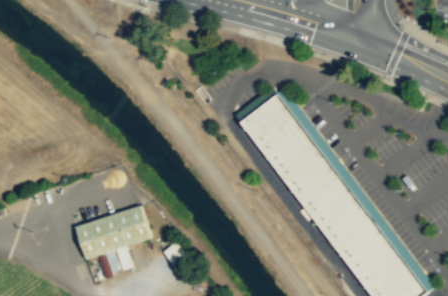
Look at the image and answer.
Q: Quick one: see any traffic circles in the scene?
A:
No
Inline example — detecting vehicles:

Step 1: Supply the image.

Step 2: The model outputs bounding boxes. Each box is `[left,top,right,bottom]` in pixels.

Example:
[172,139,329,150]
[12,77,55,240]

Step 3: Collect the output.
[404,176,417,191]
[94,206,101,216]
[324,22,335,28]
[34,194,42,206]
[331,140,341,148]
[350,159,360,168]
[80,208,87,219]
[328,134,340,144]
[313,114,324,124]
[45,191,53,204]
[106,200,114,213]
[288,16,298,22]
[298,35,308,40]
[317,120,327,129]
[345,52,358,59]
